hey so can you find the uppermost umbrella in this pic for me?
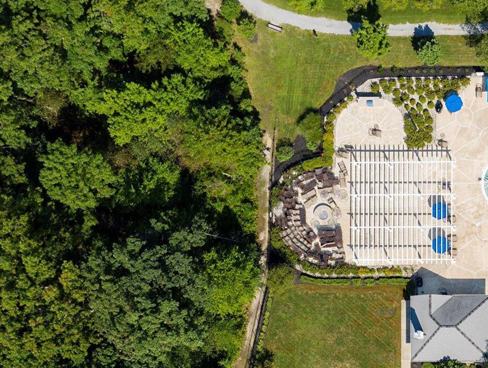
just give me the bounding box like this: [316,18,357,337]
[445,95,462,111]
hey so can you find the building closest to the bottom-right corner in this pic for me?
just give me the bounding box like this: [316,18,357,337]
[409,292,488,363]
